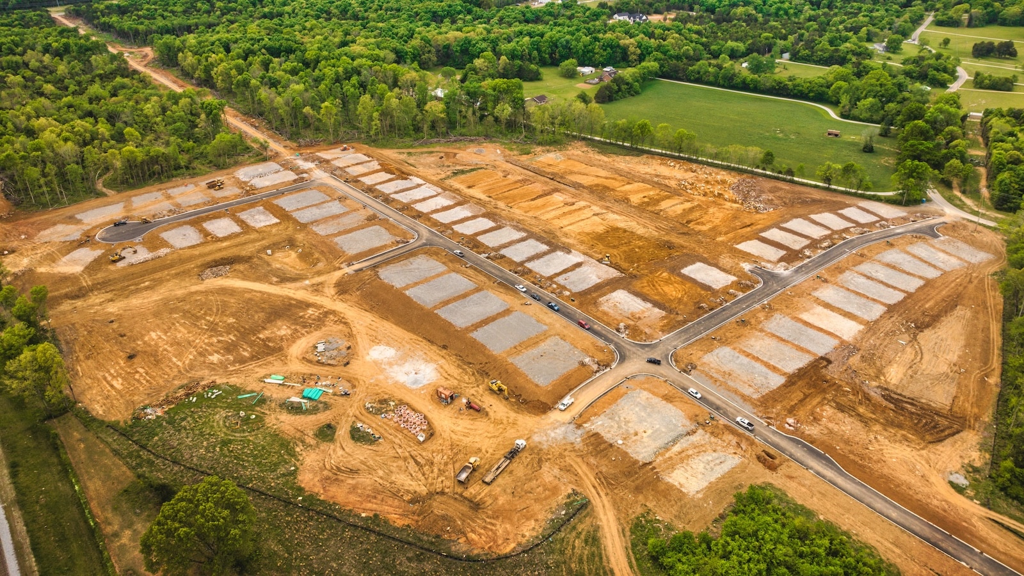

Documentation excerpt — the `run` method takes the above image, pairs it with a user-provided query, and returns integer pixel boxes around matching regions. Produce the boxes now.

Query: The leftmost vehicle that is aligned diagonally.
[104,240,140,263]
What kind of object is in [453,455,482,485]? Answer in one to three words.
truck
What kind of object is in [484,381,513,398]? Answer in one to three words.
work vehicle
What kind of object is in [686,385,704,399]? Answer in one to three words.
car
